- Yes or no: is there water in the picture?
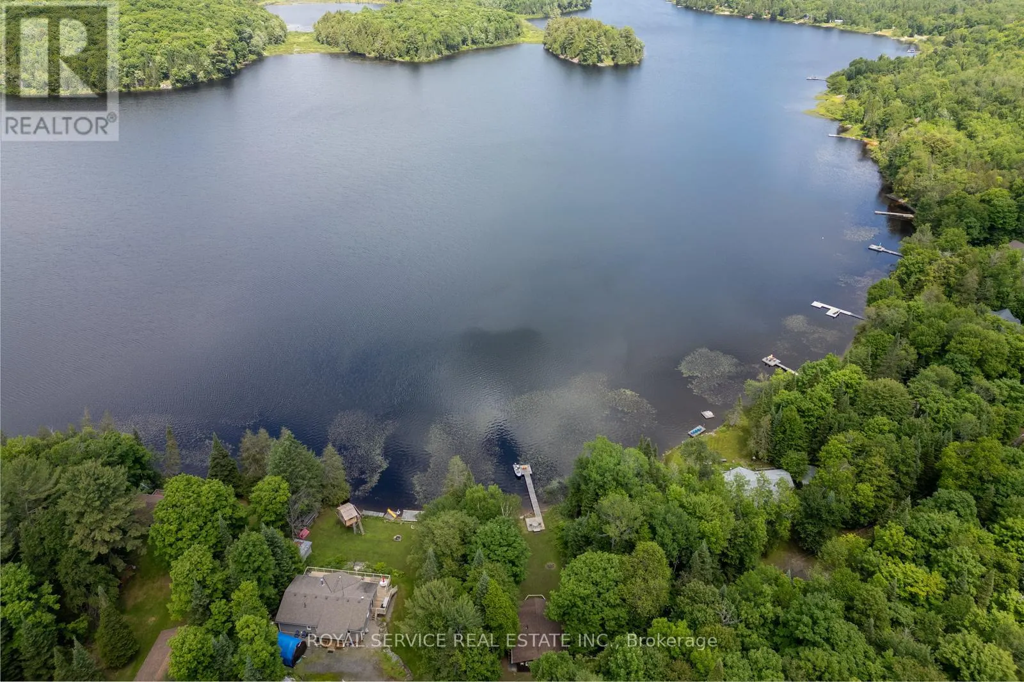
Yes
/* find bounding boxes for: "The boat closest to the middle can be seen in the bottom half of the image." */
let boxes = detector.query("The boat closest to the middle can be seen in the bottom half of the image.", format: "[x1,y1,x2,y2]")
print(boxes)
[509,459,521,477]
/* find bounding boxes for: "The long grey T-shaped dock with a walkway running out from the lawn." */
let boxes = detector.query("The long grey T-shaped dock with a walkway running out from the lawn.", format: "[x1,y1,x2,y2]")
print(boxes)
[521,461,545,515]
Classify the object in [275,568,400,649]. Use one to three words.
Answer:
house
